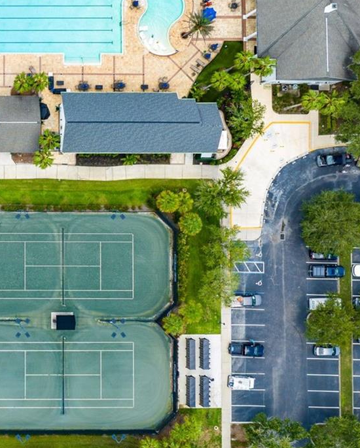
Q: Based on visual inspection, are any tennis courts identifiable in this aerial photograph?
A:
Yes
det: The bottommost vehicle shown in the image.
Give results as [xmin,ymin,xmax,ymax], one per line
[226,375,258,390]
